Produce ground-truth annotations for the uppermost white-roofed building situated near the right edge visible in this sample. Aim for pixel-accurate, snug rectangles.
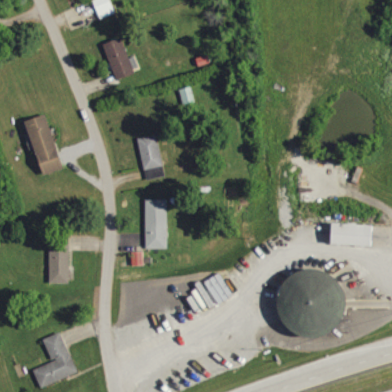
[330,223,374,247]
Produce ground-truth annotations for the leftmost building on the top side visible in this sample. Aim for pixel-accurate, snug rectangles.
[24,114,62,174]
